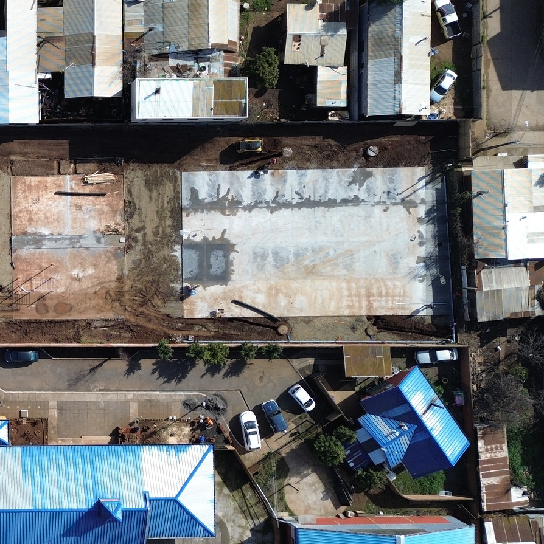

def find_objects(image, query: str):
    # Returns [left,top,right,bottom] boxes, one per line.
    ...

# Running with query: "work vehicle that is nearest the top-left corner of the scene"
[235,137,266,154]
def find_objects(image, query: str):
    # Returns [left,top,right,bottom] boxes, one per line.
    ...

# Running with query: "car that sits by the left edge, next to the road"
[4,348,39,366]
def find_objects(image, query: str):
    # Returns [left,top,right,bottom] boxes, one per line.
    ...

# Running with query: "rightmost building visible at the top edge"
[358,0,439,119]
